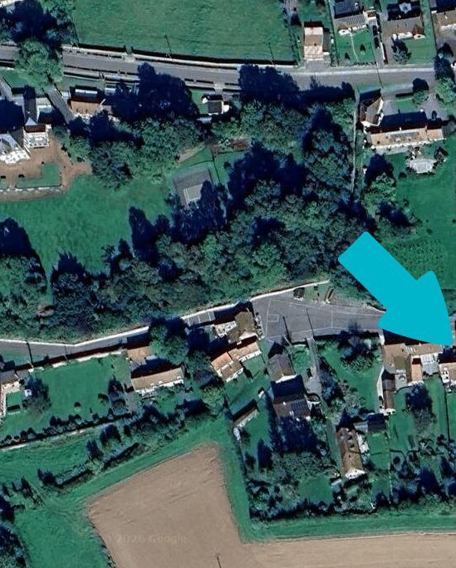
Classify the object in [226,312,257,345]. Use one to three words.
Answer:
house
